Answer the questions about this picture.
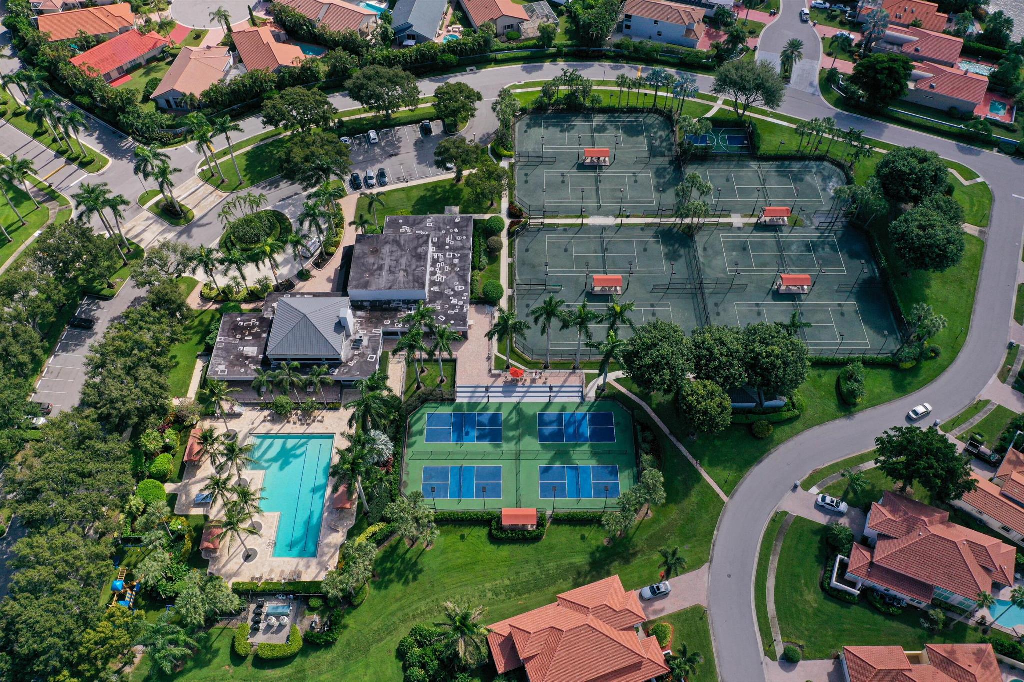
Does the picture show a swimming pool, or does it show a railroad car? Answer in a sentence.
There is a swimming pool in the scene.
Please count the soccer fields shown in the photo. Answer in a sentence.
Not a single soccer field can be seen.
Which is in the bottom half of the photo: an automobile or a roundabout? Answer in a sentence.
It is an automobile that can be seen in the bottom half of the photo.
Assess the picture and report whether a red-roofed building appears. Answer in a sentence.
Yes, the photo shows a red-roofed building.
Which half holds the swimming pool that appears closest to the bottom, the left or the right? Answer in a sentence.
The swimming pool that appears closest to the bottom is on the right side of the image.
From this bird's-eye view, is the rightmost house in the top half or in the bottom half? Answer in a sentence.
The bottom half of the photo is where the rightmost house is.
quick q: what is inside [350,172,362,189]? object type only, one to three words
vehicle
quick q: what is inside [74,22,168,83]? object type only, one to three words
house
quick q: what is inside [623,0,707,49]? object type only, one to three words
house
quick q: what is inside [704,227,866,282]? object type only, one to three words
tennis court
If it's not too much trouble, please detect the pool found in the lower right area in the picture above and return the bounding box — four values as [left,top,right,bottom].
[988,598,1024,627]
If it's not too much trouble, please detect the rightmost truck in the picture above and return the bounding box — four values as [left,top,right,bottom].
[964,440,1002,465]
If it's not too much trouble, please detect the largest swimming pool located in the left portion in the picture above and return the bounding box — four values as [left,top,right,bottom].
[245,432,337,560]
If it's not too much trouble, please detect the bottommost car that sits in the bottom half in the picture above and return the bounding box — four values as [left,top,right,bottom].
[640,579,673,600]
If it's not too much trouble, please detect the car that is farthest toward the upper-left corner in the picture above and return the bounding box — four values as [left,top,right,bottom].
[68,318,95,330]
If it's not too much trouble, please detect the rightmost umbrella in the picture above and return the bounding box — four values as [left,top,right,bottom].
[510,367,527,382]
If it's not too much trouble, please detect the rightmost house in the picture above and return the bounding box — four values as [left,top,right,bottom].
[959,447,1024,546]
